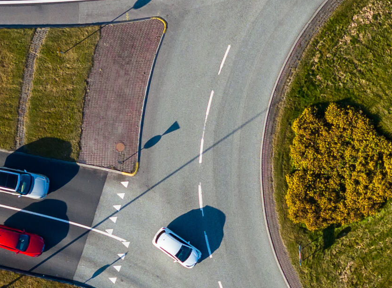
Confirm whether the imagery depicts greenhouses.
No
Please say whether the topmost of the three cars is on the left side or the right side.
left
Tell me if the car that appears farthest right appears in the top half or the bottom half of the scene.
bottom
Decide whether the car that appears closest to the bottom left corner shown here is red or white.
red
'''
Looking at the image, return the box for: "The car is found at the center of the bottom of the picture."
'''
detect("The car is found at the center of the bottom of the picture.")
[152,227,202,268]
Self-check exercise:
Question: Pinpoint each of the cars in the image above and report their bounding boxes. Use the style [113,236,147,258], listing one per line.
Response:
[0,167,50,199]
[152,227,202,268]
[0,225,46,256]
